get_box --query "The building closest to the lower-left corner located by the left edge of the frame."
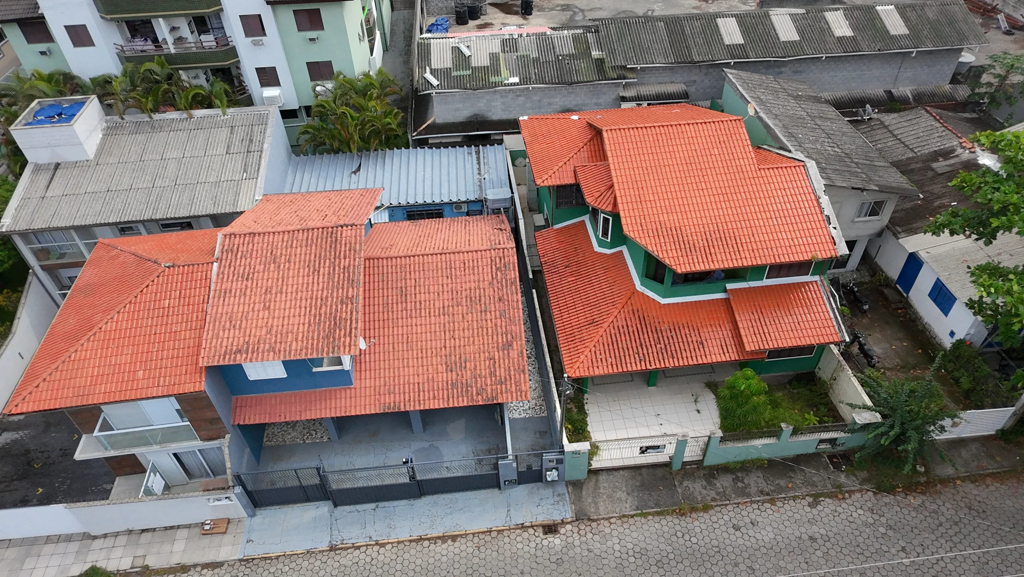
[0,230,229,486]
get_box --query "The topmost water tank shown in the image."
[949,60,980,83]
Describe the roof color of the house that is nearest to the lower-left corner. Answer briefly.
red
